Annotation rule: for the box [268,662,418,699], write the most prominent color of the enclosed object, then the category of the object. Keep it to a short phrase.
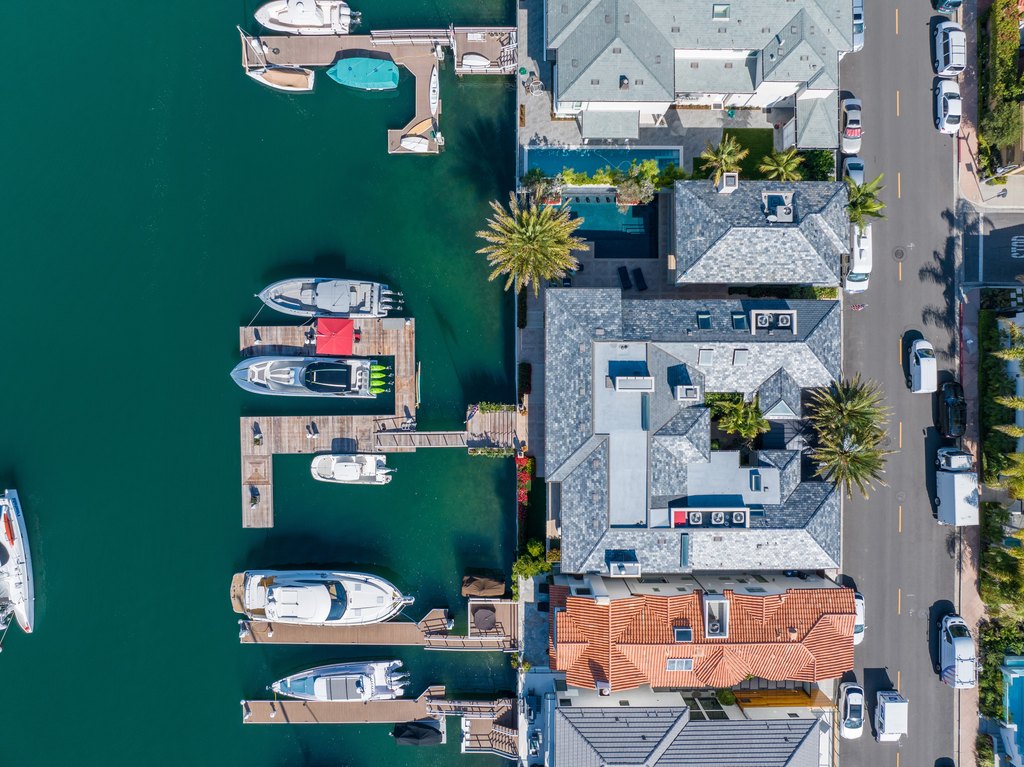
white boat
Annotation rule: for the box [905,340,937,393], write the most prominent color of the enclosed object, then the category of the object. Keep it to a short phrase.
white van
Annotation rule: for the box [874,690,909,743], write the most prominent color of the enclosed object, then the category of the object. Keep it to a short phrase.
white truck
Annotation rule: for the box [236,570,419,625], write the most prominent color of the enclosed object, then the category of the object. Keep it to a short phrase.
white boat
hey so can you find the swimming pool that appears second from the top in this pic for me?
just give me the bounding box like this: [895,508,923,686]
[543,197,660,260]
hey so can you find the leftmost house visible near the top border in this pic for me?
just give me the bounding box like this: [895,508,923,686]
[542,0,854,160]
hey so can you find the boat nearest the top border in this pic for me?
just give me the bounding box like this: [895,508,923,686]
[253,0,368,34]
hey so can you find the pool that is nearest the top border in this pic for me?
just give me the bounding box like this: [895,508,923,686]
[524,146,683,184]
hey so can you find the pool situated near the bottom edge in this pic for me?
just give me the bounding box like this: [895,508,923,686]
[999,653,1024,748]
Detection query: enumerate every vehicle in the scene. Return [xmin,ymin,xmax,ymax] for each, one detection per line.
[838,155,868,210]
[854,591,869,644]
[905,340,937,393]
[874,690,909,743]
[934,382,968,438]
[838,99,866,155]
[933,24,967,80]
[931,80,964,136]
[934,446,980,526]
[840,220,874,294]
[849,0,869,53]
[935,614,977,692]
[837,680,867,737]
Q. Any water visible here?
Yes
